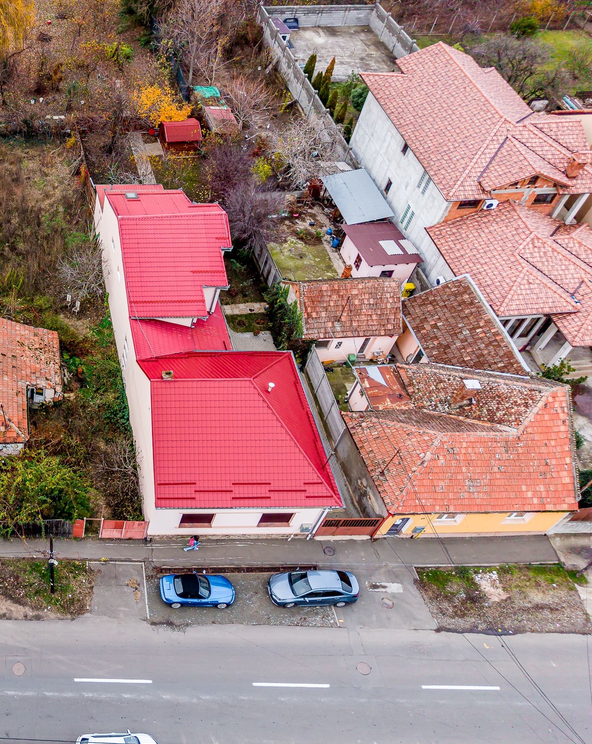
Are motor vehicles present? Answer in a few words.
Yes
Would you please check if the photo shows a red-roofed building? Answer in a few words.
Yes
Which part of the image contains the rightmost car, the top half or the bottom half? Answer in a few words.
bottom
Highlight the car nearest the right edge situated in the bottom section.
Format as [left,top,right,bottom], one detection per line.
[263,560,363,604]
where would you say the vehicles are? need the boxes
[156,565,236,608]
[73,729,163,744]
[263,560,363,604]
